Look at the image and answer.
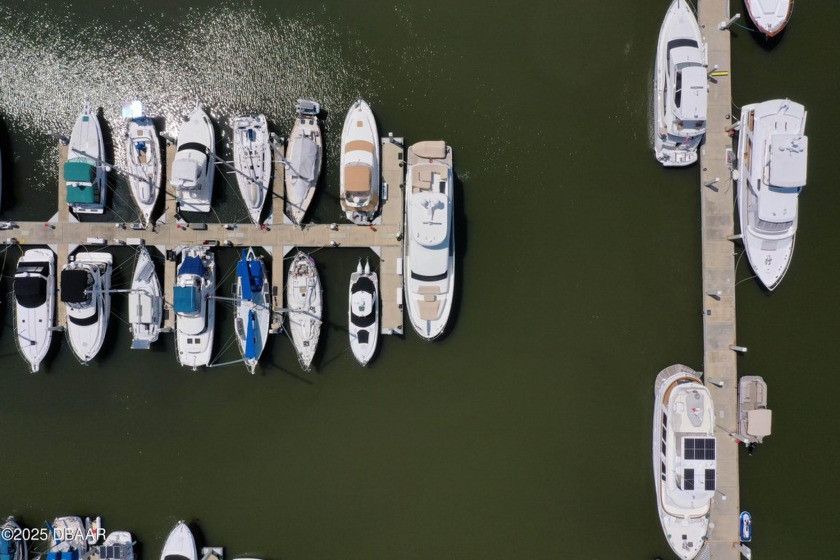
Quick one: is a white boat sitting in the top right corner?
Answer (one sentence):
Yes, you'll find a white boat in the top right corner.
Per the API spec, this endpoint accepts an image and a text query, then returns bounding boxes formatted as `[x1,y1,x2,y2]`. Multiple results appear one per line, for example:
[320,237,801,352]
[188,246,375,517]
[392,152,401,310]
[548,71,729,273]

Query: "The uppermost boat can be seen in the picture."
[733,0,798,40]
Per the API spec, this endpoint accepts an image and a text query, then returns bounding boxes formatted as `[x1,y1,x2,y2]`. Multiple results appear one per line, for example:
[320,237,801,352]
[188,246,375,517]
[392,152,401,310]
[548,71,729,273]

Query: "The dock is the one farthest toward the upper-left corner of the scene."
[0,134,404,335]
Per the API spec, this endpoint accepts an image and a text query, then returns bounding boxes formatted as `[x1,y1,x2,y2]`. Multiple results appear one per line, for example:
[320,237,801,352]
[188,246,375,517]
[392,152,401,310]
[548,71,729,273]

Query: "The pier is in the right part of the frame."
[695,0,739,560]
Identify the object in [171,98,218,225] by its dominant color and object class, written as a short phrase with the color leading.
white boat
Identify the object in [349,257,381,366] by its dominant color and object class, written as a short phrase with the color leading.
white boat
